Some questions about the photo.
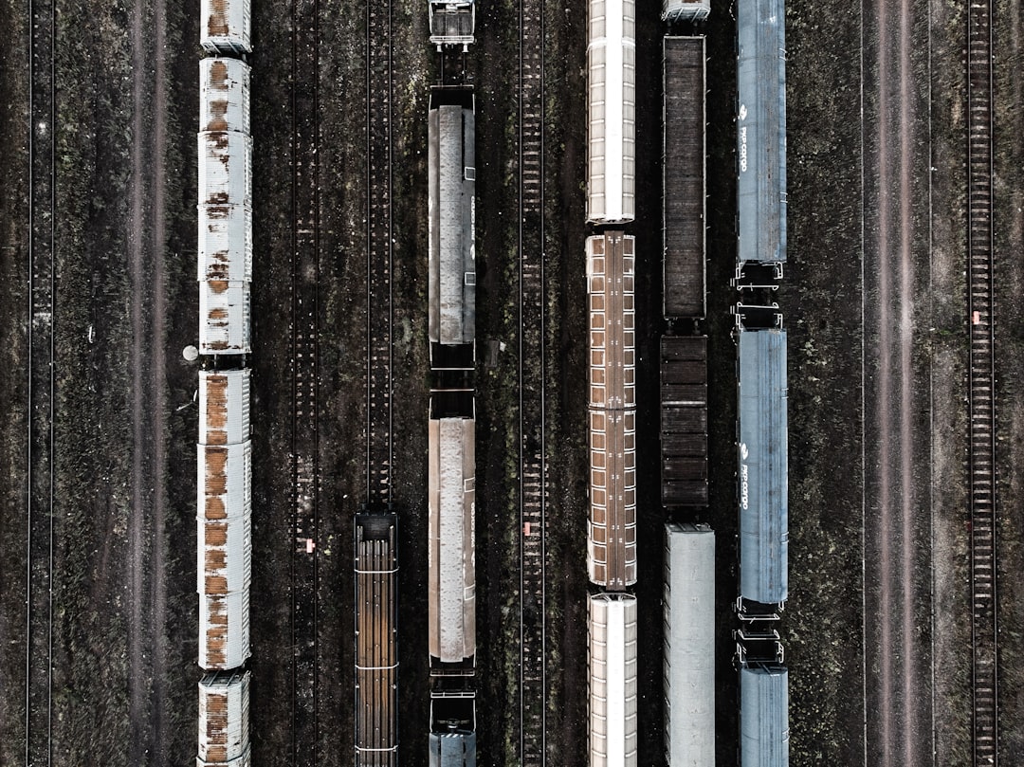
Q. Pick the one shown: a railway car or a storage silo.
railway car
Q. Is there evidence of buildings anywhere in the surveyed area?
No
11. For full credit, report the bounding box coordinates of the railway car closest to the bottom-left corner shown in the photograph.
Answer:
[194,665,251,767]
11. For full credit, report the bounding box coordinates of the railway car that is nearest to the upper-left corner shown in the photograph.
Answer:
[197,0,252,62]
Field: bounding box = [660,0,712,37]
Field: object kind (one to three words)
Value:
rail car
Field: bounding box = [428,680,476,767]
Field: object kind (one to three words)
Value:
rail car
